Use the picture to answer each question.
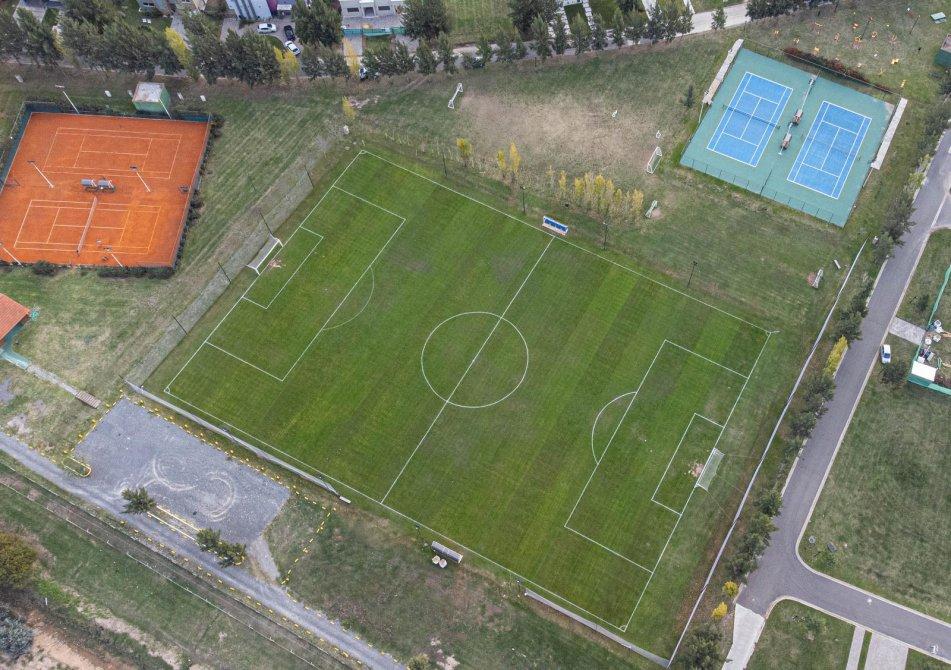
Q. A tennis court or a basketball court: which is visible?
tennis court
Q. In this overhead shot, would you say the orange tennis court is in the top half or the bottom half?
top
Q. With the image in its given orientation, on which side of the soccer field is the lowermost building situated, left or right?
on its right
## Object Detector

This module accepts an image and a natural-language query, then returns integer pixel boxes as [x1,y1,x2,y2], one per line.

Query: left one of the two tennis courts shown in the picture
[0,112,206,268]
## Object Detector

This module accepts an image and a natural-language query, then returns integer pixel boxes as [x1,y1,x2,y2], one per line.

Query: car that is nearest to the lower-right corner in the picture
[881,343,894,362]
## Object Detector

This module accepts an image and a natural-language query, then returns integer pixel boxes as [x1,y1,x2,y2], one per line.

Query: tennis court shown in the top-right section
[681,48,893,227]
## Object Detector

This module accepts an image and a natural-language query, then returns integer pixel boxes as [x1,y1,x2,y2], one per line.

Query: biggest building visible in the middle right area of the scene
[905,361,939,382]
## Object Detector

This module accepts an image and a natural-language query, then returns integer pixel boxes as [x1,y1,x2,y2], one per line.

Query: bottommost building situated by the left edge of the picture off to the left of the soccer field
[0,292,30,343]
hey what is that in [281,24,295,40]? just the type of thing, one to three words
vehicle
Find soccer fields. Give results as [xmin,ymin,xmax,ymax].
[124,125,805,670]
